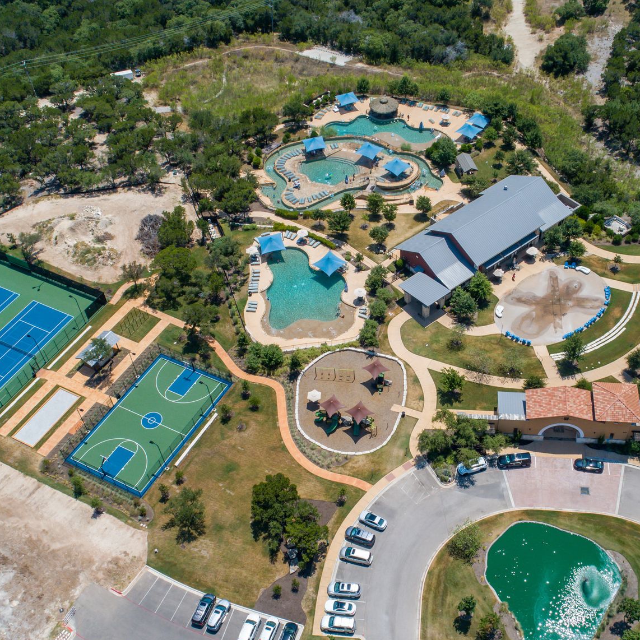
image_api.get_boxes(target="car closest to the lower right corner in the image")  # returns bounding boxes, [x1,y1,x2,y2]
[575,458,603,474]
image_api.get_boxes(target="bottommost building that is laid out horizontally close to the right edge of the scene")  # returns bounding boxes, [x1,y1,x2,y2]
[490,379,640,445]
